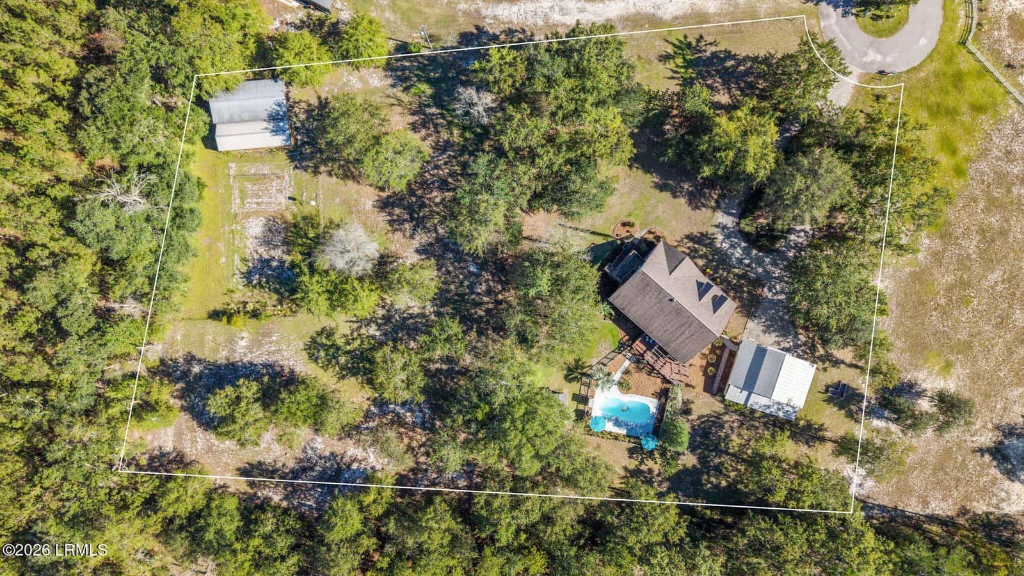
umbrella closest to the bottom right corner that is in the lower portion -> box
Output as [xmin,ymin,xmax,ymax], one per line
[641,434,657,450]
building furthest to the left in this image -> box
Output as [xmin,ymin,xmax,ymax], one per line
[210,79,297,154]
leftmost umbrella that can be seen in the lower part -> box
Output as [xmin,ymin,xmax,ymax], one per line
[589,415,606,432]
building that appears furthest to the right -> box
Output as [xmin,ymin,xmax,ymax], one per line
[723,339,816,422]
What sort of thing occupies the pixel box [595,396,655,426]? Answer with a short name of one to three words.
swimming pool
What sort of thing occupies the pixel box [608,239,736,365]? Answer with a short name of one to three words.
house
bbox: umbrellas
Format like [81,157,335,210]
[589,415,606,432]
[641,434,657,450]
